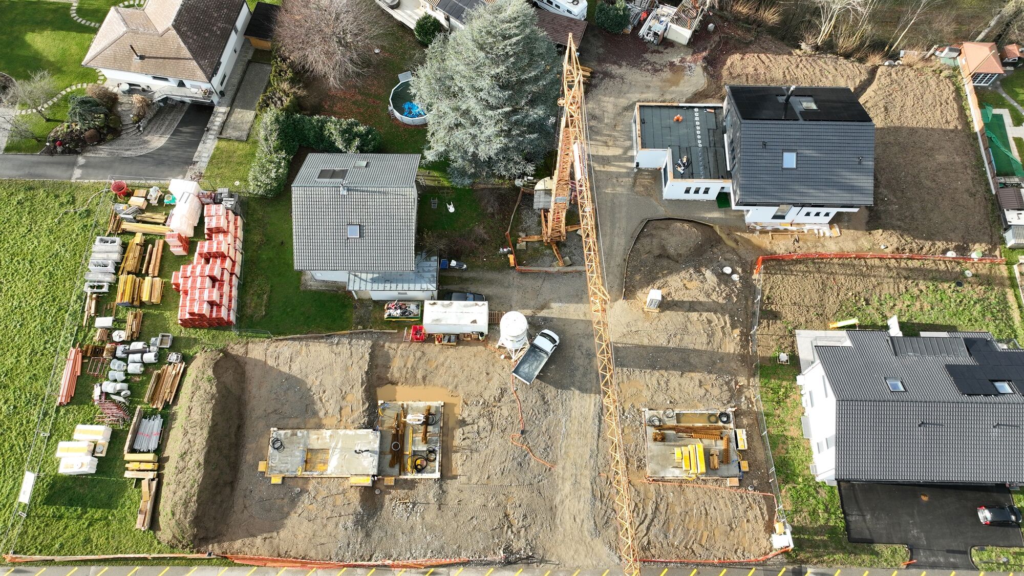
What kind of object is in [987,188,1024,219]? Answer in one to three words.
shed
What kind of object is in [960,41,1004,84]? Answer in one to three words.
building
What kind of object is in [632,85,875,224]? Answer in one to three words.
house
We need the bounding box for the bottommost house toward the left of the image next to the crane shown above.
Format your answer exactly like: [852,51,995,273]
[291,153,442,301]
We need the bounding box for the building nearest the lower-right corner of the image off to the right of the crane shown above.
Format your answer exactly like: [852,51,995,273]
[795,315,1024,487]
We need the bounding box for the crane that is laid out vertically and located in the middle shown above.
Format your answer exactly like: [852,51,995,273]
[520,32,647,576]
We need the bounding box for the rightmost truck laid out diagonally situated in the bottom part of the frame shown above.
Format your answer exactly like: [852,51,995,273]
[509,331,560,389]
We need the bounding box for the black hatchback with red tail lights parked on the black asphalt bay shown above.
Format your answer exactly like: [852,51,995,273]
[974,501,1023,527]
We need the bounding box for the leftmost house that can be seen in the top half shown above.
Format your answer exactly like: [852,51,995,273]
[81,0,258,110]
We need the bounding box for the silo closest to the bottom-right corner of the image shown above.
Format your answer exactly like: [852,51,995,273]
[495,312,530,368]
